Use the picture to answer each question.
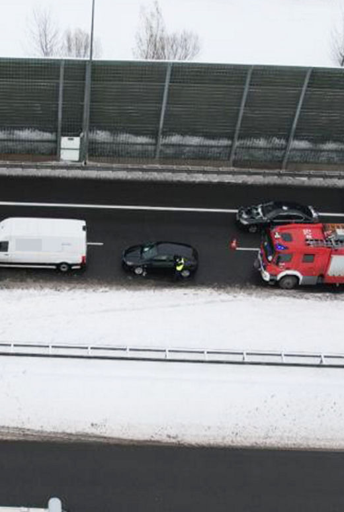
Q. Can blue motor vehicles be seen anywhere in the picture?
No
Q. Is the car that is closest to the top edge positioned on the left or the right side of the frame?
right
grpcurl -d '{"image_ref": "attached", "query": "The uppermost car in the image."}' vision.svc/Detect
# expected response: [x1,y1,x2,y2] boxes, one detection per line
[234,199,319,233]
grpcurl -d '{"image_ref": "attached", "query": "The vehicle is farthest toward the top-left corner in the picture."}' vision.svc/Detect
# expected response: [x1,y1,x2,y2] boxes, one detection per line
[0,218,87,271]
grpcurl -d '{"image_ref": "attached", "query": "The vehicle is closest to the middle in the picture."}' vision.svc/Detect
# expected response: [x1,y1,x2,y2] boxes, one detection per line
[123,240,199,279]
